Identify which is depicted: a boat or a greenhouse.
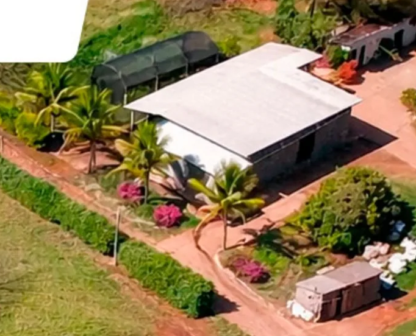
greenhouse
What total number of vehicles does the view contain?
0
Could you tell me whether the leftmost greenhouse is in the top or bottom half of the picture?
top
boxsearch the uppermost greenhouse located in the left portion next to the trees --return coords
[85,22,223,105]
